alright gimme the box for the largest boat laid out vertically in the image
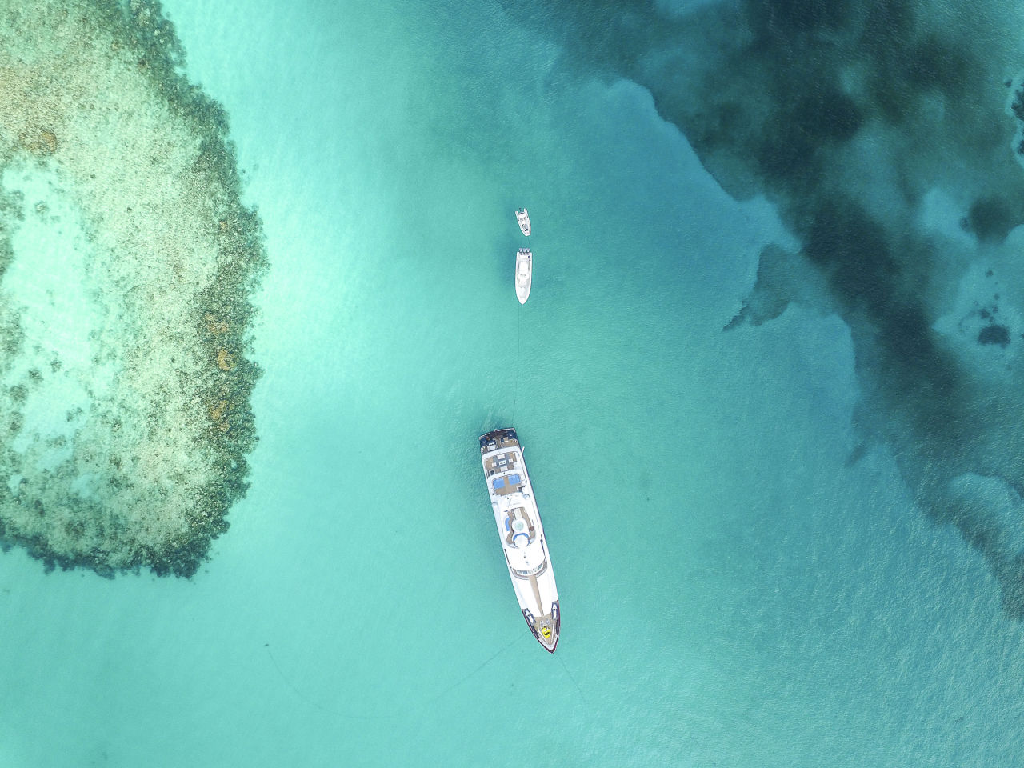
[479,428,559,654]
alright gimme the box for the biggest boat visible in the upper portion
[515,247,532,302]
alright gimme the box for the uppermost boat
[515,207,531,235]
